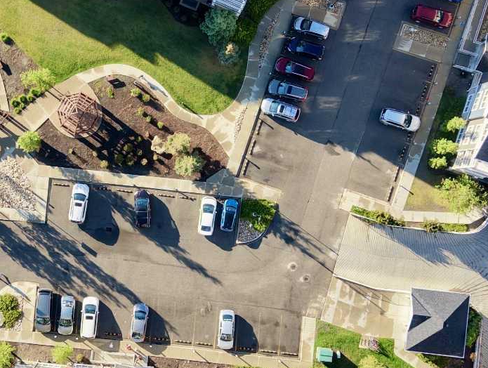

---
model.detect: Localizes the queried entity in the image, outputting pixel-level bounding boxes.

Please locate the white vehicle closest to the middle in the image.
[197,195,218,236]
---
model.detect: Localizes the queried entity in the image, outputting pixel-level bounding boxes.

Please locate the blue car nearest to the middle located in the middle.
[219,198,239,233]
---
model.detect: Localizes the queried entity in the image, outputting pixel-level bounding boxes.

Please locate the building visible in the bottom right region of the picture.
[405,288,471,359]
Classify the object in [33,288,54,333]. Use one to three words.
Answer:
car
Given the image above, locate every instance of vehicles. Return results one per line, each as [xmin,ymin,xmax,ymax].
[259,98,302,123]
[291,17,332,41]
[33,288,54,333]
[409,4,454,28]
[80,296,100,340]
[274,57,317,82]
[69,183,90,225]
[216,308,235,350]
[133,189,152,229]
[219,198,239,233]
[56,295,76,335]
[197,195,218,236]
[130,303,149,344]
[378,108,423,134]
[267,78,311,103]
